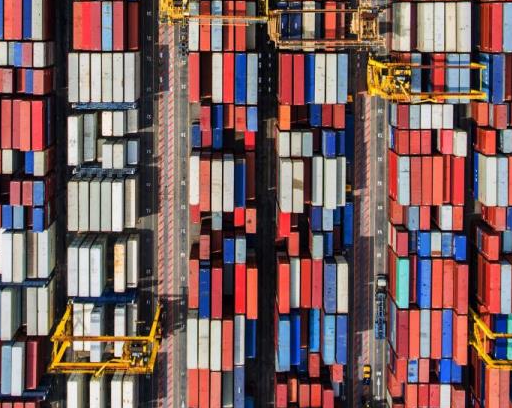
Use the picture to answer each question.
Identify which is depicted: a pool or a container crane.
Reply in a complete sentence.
Of the two, only a container crane appears.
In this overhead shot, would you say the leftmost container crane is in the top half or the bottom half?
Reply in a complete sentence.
The bottom half of the photo is where the leftmost container crane is.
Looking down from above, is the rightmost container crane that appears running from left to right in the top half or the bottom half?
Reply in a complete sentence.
You can find the rightmost container crane that appears running from left to right in the top half.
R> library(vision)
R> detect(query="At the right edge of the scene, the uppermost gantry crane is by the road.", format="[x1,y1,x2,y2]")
[364,50,490,109]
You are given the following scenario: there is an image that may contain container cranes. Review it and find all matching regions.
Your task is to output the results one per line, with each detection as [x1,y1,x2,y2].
[465,291,512,368]
[161,0,271,29]
[264,1,383,50]
[364,50,490,109]
[50,294,169,390]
